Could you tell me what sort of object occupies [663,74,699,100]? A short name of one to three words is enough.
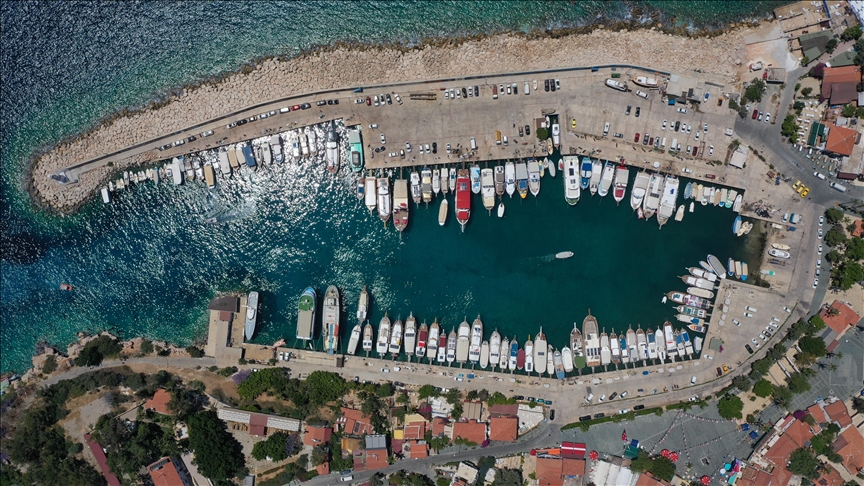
building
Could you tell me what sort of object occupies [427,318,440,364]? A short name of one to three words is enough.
boat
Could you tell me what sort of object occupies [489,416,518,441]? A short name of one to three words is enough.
house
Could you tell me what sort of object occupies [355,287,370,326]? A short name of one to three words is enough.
boat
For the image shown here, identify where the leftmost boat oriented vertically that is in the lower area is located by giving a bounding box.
[245,291,259,341]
